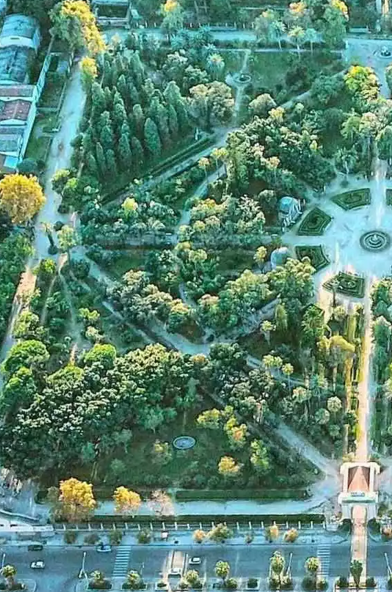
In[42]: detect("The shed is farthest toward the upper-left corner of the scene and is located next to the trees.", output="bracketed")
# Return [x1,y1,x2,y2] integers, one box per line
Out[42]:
[0,10,42,50]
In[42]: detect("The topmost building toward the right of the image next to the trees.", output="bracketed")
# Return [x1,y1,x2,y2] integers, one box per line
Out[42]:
[282,200,307,228]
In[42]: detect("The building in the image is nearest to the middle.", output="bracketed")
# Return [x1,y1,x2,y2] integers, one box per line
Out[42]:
[271,246,296,271]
